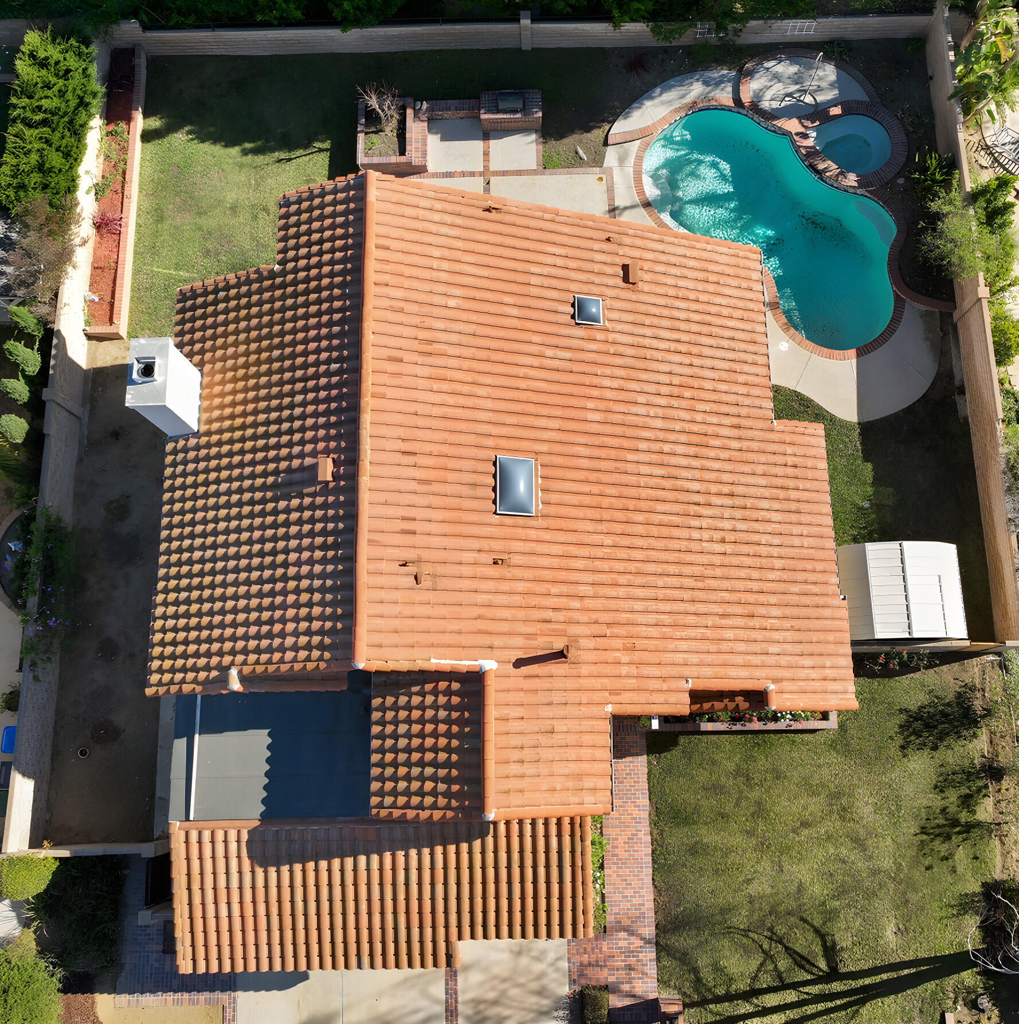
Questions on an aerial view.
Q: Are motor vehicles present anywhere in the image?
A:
No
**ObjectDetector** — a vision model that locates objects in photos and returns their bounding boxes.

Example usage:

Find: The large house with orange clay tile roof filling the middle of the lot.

[125,165,868,981]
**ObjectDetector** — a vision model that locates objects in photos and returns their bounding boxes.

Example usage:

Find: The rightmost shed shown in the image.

[843,543,969,639]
